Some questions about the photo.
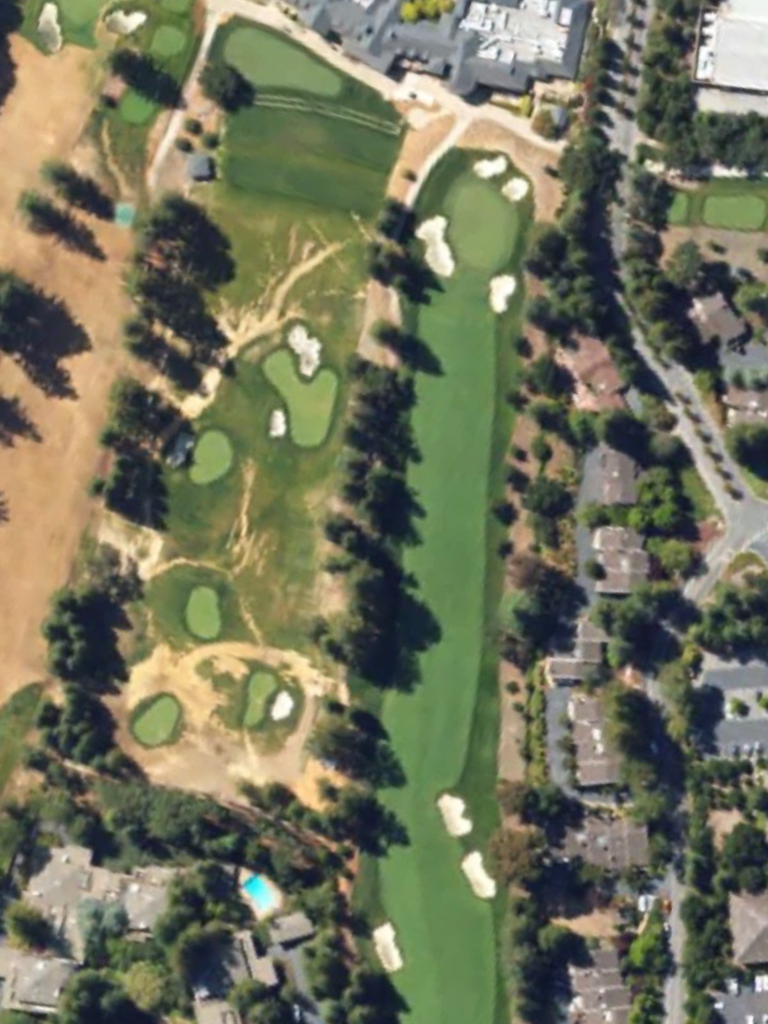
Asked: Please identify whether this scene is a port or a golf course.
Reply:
golf course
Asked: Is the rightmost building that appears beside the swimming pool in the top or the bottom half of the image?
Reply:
bottom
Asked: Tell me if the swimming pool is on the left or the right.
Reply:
left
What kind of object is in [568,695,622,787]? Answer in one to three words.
house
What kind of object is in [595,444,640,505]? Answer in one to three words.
house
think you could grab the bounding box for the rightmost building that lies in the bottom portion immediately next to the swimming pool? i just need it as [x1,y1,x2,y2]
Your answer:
[271,912,312,943]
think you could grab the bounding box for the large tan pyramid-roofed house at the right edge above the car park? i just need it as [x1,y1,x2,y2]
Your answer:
[731,892,768,969]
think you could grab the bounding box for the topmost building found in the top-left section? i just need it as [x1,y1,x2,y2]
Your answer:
[189,154,214,178]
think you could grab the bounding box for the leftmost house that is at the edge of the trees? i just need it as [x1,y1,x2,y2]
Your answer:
[0,950,77,1013]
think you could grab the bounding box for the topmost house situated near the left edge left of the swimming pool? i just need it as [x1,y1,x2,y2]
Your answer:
[24,843,171,958]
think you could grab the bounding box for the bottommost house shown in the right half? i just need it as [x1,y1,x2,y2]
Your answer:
[568,946,633,1024]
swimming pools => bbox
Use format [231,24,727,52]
[236,865,282,923]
